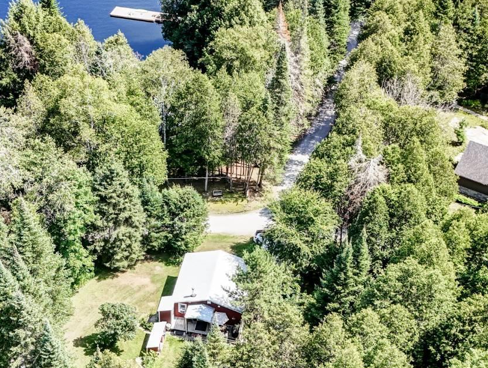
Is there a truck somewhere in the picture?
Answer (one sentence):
No, no truck is visible in the scene.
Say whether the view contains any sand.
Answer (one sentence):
No, no sand is visible.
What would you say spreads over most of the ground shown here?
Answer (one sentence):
The largest share of the image is taken up by trees.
